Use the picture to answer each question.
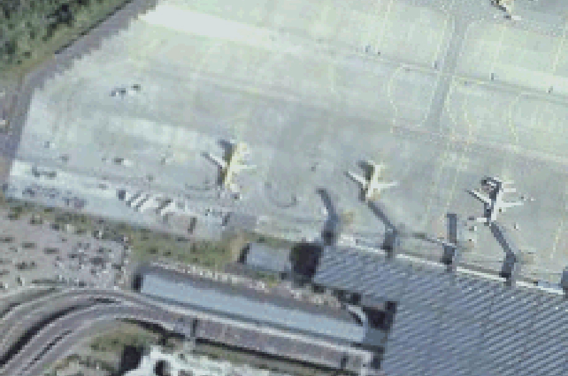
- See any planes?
Yes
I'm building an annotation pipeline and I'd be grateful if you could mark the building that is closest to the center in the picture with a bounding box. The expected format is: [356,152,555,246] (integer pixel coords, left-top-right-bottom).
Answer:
[246,244,294,274]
